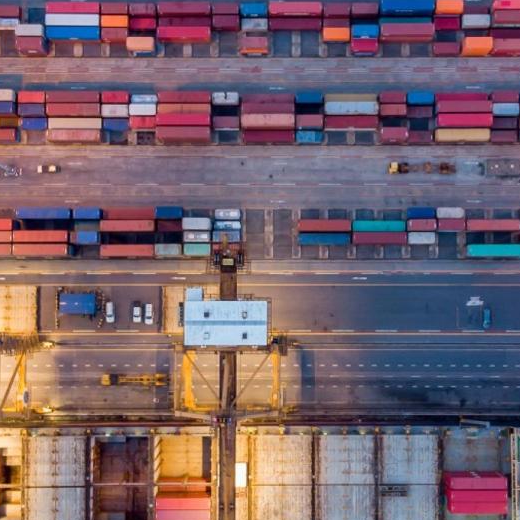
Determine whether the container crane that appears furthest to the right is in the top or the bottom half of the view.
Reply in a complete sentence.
The container crane that appears furthest to the right is in the bottom half of the image.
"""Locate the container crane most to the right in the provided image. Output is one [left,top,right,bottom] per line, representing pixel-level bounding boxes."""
[167,231,300,520]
